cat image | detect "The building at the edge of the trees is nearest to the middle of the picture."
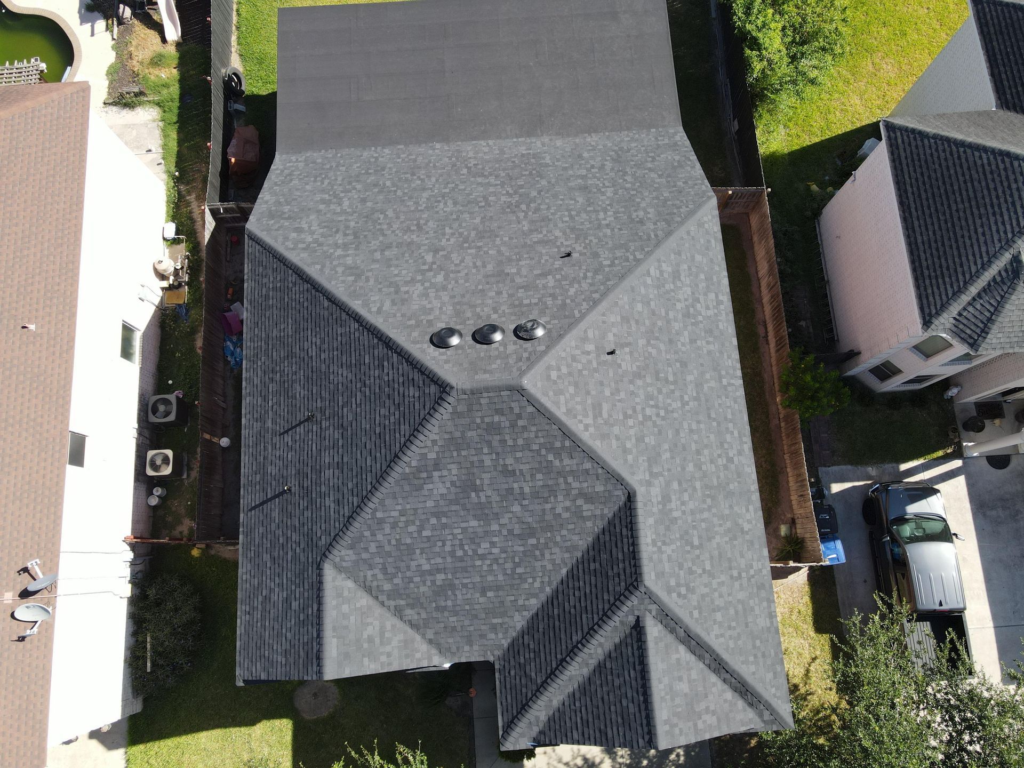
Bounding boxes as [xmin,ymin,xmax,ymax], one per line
[234,0,797,754]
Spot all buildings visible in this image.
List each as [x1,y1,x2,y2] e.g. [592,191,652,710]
[0,85,169,768]
[817,0,1024,461]
[234,0,797,754]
